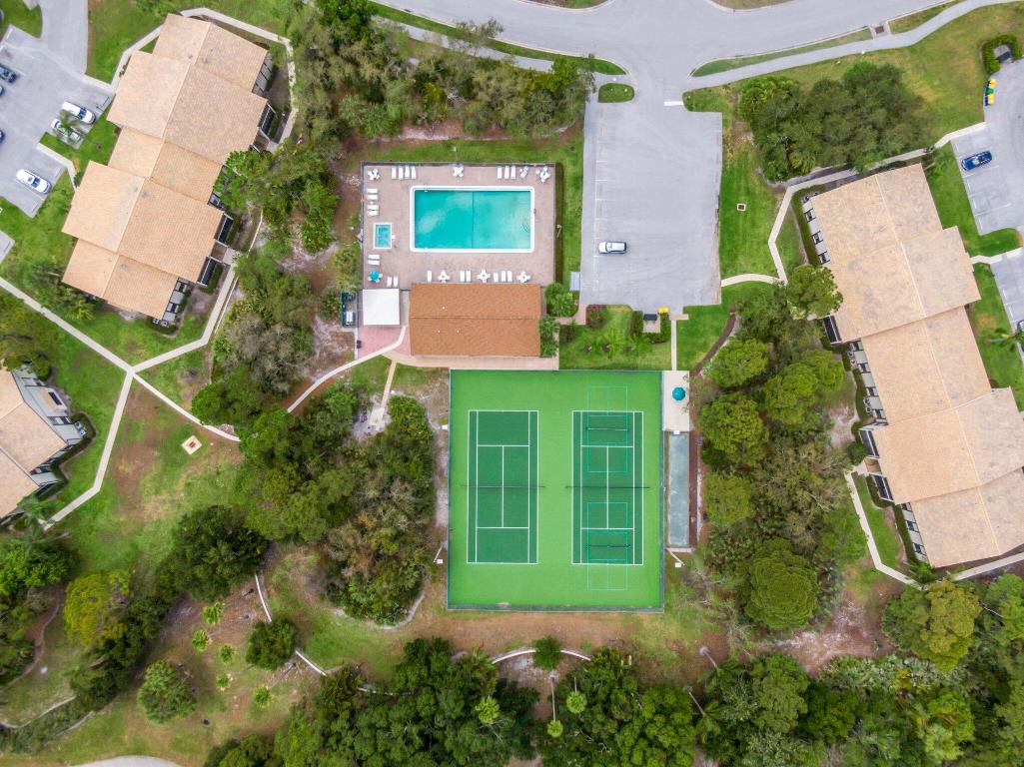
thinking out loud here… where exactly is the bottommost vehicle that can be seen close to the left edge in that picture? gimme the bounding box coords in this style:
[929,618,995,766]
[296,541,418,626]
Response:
[18,170,51,193]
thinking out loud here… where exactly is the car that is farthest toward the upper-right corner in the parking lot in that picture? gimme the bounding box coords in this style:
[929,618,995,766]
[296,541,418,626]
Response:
[959,150,992,172]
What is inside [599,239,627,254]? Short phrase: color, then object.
white car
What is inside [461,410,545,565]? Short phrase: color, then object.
green tennis court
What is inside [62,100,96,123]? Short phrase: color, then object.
white car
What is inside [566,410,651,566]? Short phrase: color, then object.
green tennis court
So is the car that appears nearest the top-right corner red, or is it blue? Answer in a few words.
blue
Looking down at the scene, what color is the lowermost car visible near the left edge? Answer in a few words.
white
